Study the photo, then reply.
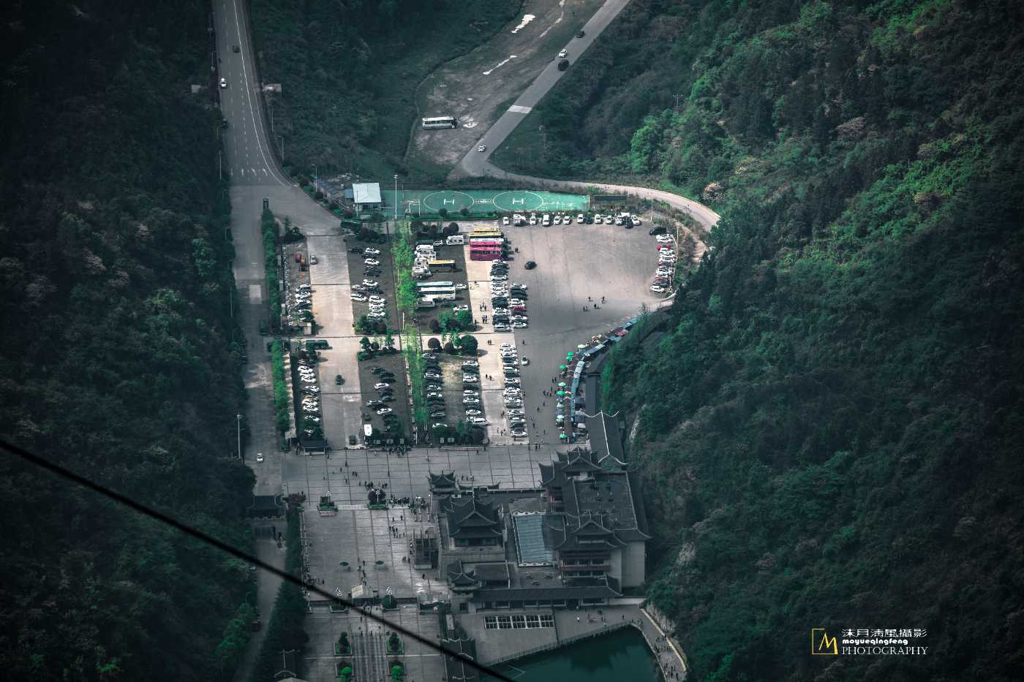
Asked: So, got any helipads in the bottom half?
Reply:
No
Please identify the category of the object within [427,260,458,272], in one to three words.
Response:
vehicle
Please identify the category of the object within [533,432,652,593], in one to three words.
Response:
building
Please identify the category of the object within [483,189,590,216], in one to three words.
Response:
helipad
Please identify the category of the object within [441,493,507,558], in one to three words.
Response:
building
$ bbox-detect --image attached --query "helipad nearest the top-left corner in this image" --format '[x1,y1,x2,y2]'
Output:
[383,189,488,217]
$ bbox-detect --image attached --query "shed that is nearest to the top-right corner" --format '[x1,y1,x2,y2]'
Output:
[595,194,625,210]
